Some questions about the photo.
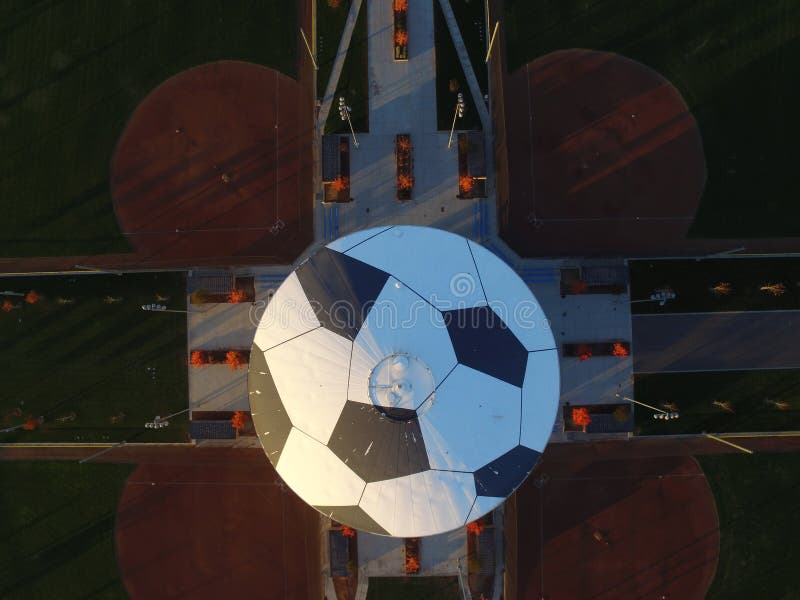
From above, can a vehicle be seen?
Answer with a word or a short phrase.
No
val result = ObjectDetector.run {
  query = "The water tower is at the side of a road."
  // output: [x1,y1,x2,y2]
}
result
[249,225,562,538]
